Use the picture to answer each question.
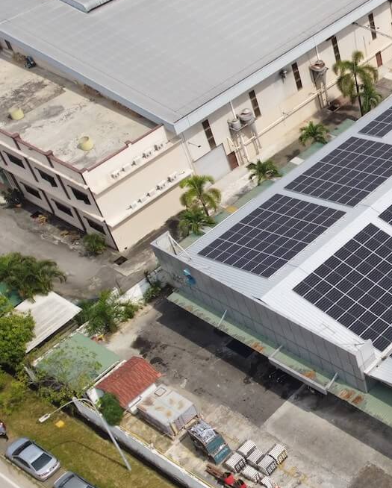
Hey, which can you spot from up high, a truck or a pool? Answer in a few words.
truck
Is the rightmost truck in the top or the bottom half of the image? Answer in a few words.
bottom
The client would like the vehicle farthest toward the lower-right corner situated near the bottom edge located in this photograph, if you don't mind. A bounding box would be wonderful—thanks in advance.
[182,419,236,471]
